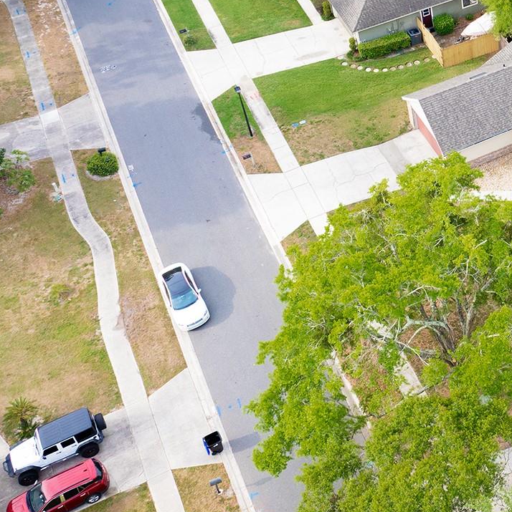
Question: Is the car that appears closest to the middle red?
No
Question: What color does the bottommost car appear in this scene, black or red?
red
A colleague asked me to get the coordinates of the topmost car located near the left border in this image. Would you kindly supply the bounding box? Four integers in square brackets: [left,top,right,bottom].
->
[9,413,100,482]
